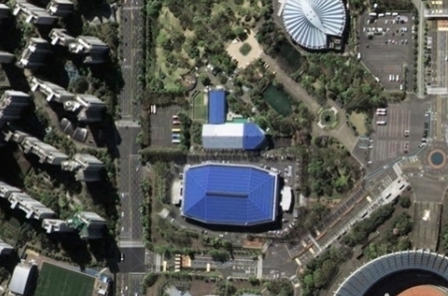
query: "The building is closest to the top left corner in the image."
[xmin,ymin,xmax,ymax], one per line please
[0,4,20,32]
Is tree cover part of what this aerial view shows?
Yes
